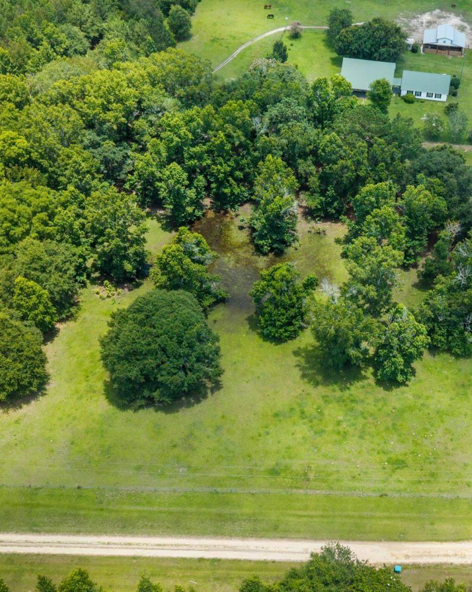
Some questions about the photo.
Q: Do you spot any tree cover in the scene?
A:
Yes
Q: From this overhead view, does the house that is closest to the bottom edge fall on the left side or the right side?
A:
right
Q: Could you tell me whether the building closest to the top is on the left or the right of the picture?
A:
right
